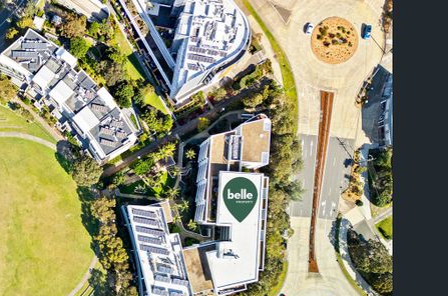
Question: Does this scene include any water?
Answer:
No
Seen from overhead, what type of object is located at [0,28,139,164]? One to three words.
building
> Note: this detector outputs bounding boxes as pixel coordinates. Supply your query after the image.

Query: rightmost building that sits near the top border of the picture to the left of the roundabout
[117,0,250,113]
